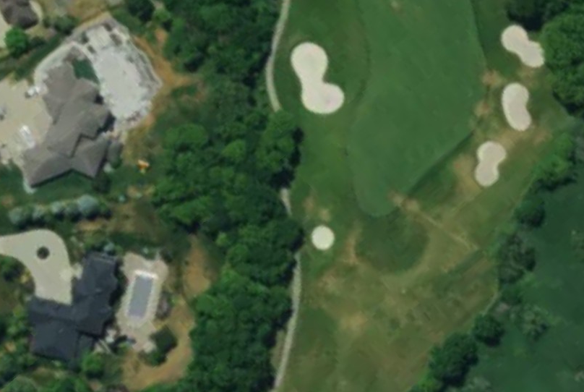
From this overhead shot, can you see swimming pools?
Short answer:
Yes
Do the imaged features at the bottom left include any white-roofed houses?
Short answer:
No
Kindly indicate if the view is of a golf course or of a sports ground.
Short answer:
golf course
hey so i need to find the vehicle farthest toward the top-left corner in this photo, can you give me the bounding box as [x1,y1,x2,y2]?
[26,84,44,96]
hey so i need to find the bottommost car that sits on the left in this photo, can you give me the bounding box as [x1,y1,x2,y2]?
[18,125,35,149]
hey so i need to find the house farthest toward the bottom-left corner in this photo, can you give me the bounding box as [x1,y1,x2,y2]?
[25,253,120,364]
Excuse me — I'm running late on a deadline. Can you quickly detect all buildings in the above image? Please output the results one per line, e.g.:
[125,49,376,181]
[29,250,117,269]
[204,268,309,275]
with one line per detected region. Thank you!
[0,0,42,32]
[17,60,117,193]
[25,253,120,364]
